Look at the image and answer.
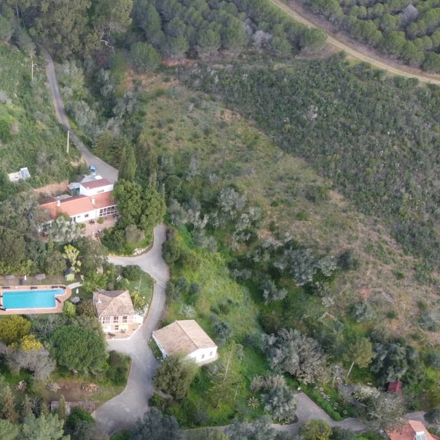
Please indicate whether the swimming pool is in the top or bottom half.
bottom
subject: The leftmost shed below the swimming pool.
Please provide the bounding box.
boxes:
[51,399,95,420]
